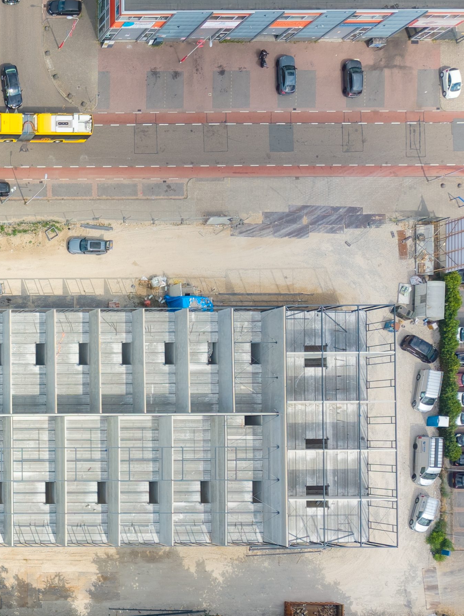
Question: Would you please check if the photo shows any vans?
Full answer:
Yes, looking at the shot, I can spot a van.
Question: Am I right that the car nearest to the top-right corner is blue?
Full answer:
No, the color of the car nearest to the top-right corner is white.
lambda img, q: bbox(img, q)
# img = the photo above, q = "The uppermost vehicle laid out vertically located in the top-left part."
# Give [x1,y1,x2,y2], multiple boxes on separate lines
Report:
[0,65,23,109]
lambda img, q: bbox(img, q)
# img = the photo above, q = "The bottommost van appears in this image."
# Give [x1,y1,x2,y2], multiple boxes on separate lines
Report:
[408,495,442,532]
